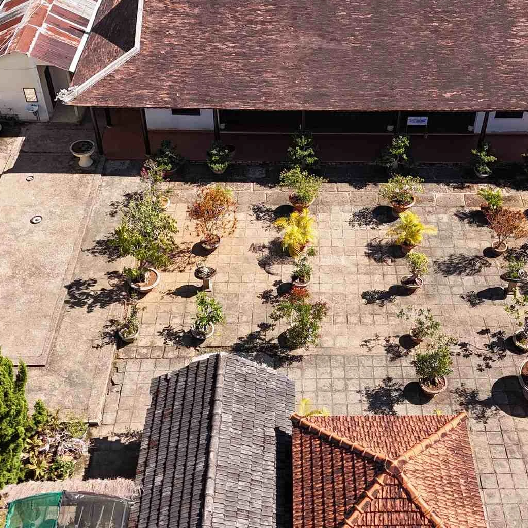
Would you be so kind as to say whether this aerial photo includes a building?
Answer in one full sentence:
Yes, the photo shows a building.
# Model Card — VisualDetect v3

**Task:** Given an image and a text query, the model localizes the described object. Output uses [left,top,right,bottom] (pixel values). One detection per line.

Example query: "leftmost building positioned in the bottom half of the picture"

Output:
[122,352,296,528]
